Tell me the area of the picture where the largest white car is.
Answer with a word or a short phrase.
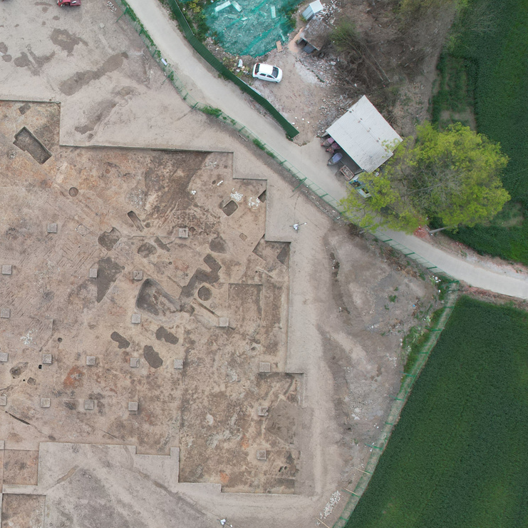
top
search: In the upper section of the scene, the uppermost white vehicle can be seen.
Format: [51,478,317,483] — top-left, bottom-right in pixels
[250,63,284,83]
